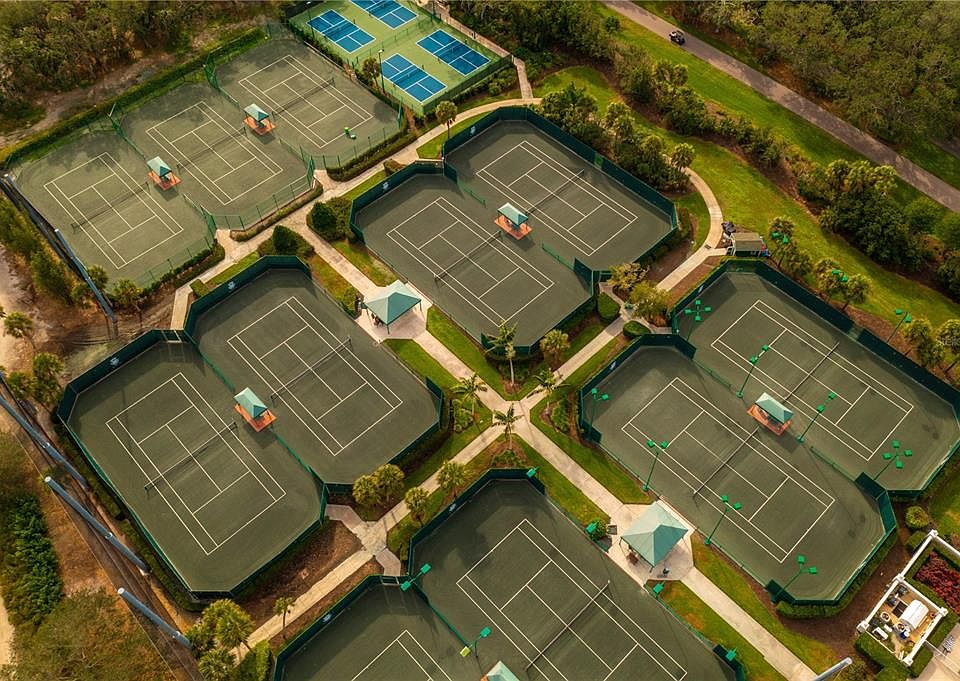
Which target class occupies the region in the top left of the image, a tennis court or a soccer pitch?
tennis court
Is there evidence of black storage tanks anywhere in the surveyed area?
No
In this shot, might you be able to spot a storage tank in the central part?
No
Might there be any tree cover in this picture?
Yes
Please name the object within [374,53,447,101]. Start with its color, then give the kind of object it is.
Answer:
blue sports court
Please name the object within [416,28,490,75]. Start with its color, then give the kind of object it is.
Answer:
blue sports court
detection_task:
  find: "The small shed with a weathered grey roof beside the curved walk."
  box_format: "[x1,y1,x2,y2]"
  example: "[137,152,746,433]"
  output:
[731,236,765,259]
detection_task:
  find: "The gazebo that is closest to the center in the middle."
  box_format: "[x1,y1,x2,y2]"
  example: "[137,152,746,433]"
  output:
[365,280,422,335]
